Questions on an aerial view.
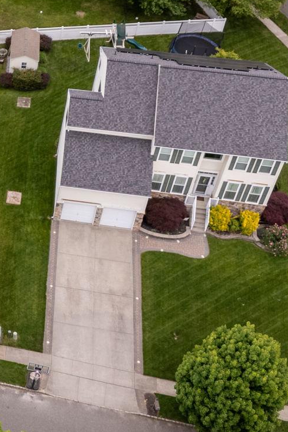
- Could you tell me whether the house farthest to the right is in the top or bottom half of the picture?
top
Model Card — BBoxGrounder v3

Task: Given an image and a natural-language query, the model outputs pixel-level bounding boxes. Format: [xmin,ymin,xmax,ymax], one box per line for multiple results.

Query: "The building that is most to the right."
[54,49,288,231]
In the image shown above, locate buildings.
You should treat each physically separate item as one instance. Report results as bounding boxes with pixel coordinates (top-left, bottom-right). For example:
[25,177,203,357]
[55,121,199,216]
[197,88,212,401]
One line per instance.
[9,26,43,73]
[54,49,288,231]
